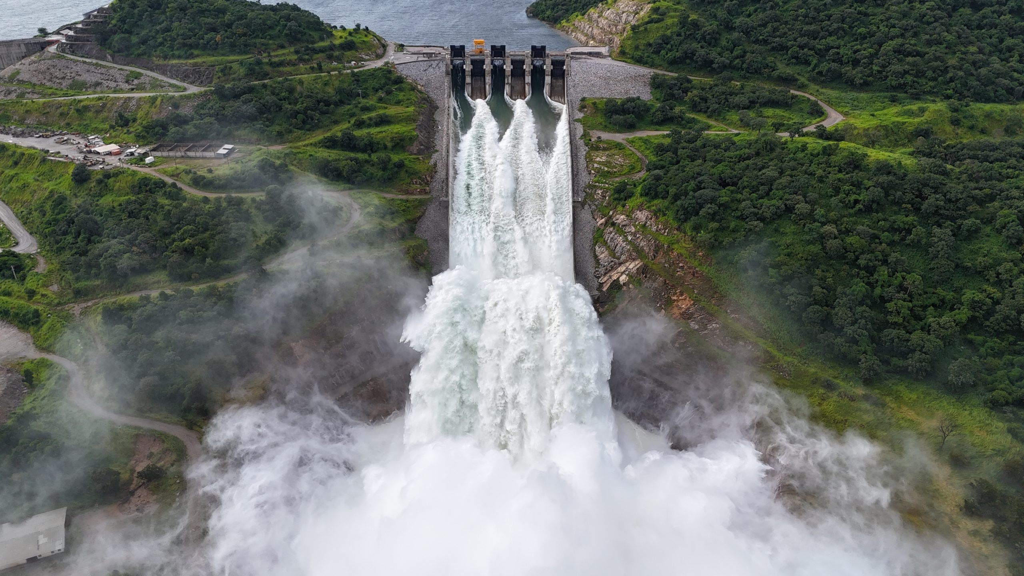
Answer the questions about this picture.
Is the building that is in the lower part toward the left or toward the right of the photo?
left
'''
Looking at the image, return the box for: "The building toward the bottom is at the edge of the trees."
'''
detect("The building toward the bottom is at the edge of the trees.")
[0,507,70,571]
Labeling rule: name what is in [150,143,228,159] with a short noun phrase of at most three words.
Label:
building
